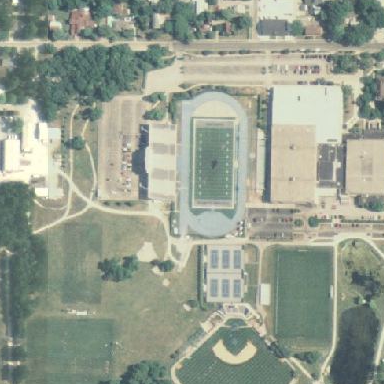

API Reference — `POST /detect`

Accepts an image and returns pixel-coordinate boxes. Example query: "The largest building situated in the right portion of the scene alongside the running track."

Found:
[271,85,343,204]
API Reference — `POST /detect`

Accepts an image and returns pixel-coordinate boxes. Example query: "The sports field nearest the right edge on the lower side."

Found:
[272,246,334,348]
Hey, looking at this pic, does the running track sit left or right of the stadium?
on its left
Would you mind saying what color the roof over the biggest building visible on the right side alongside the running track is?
white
